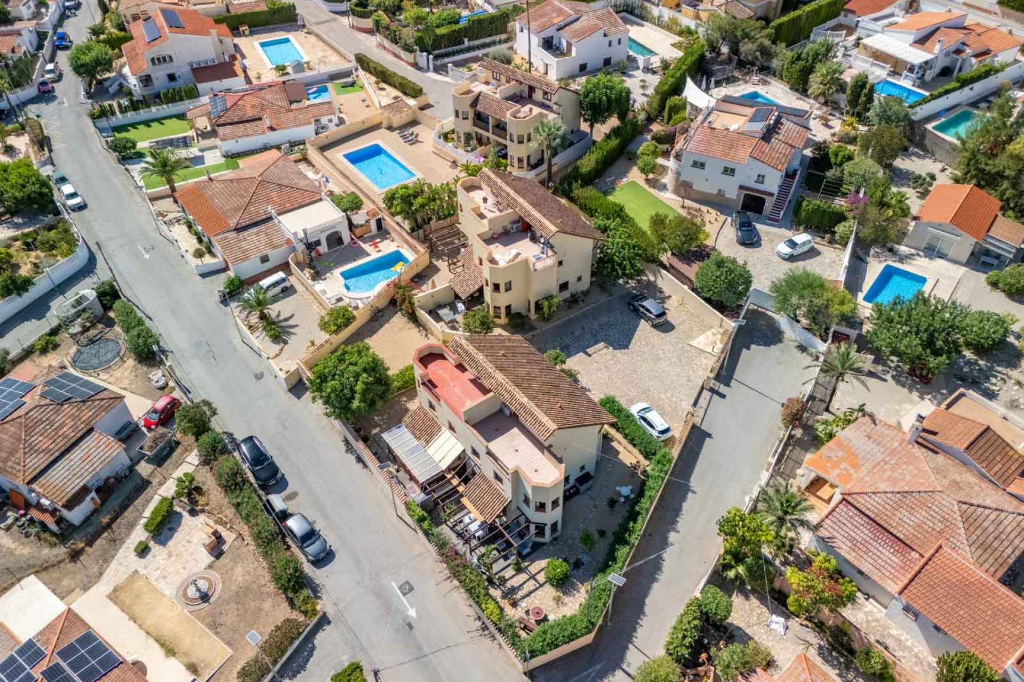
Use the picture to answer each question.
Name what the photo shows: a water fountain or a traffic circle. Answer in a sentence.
The one in the frame is a water fountain.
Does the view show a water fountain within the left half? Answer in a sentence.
Yes, a water fountain appears within the left half.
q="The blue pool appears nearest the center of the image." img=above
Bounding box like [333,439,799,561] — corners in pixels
[334,246,414,295]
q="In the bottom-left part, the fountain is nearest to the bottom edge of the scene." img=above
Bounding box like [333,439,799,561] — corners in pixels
[172,567,224,614]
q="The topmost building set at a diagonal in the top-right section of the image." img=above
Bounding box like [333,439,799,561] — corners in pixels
[839,0,898,44]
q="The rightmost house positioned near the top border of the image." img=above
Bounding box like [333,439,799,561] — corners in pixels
[879,2,1020,76]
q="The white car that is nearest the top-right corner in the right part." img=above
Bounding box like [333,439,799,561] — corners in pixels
[774,232,818,259]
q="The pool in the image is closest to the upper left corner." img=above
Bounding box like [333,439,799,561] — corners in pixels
[254,34,309,67]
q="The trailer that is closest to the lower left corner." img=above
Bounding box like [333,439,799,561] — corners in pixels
[134,425,175,459]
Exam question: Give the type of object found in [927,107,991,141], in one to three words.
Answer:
swimming pool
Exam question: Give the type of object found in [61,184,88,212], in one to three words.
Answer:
car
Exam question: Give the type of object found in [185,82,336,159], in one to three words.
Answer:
house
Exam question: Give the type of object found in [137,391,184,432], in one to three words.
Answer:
car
